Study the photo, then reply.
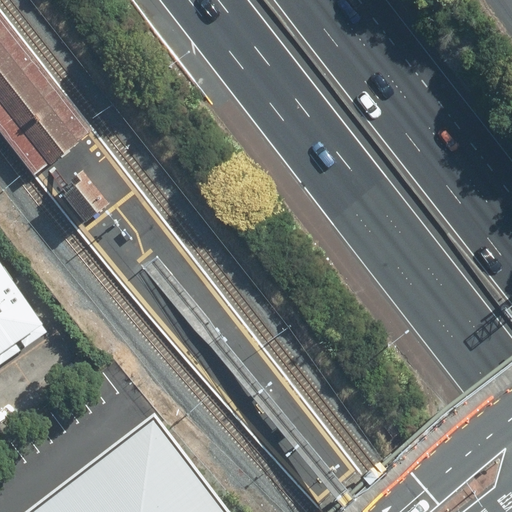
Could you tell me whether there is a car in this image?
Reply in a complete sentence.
Yes, there is a car in the image.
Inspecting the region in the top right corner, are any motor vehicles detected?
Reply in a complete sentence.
Yes, you'll find a motor vehicle in the top right corner.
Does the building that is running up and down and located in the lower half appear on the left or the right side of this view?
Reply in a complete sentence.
You can find the building that is running up and down and located in the lower half on the left side of the picture.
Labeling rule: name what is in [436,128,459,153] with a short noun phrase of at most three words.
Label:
car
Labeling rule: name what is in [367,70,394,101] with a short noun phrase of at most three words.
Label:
car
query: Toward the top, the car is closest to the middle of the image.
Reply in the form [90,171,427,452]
[310,140,334,168]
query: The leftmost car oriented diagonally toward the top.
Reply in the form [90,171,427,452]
[194,0,218,22]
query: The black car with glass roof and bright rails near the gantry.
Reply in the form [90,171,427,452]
[476,246,502,275]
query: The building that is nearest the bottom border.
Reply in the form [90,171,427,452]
[26,412,232,512]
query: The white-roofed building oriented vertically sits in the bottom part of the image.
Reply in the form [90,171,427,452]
[0,256,48,365]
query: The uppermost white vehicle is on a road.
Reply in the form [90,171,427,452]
[356,90,382,120]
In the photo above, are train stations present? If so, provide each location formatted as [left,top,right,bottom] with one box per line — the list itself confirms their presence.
[0,46,362,508]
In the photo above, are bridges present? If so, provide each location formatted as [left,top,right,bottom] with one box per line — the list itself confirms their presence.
[336,360,512,512]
